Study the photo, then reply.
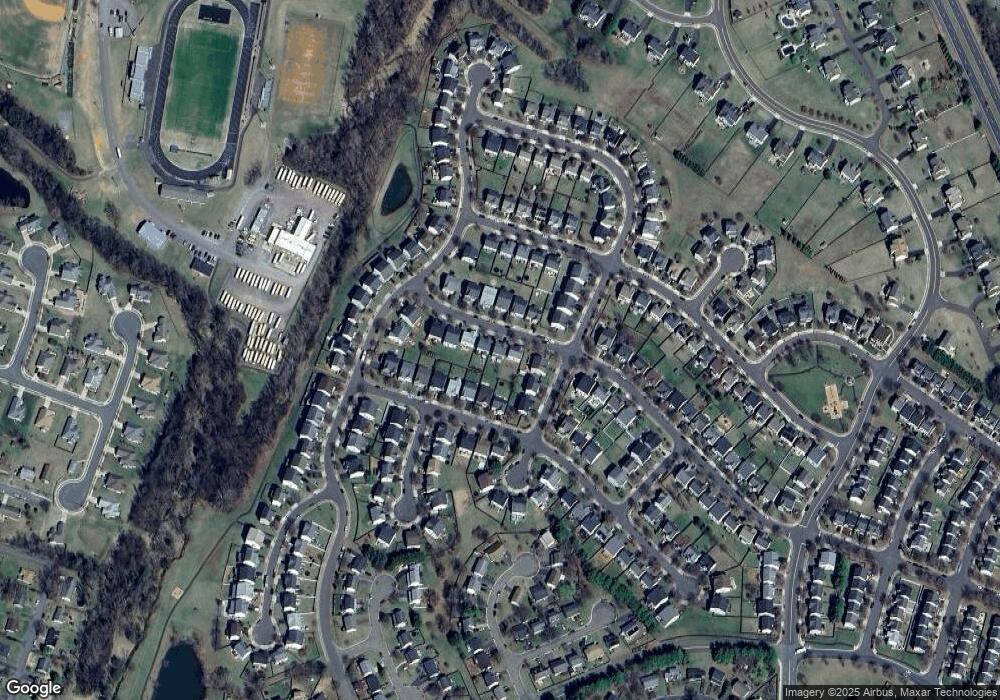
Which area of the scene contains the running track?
top left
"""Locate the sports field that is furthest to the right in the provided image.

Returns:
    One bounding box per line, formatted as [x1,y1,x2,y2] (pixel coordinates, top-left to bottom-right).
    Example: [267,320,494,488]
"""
[165,22,241,139]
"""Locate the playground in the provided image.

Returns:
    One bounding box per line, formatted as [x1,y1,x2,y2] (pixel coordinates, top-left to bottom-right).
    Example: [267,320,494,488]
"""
[822,384,849,420]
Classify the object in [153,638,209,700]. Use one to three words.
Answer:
pond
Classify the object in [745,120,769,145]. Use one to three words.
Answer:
house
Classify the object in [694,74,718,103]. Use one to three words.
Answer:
house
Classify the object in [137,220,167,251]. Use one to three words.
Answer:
building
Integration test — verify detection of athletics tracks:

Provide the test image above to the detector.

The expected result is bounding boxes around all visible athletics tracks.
[146,0,260,185]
